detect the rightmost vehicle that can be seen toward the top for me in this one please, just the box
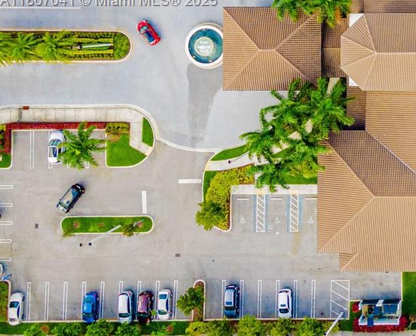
[135,19,159,47]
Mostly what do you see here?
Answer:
paved ground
